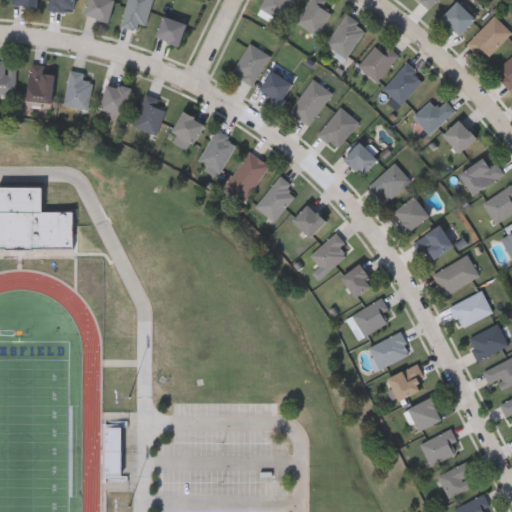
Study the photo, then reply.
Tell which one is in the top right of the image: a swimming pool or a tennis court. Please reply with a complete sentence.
You can see a swimming pool in the top right of the image.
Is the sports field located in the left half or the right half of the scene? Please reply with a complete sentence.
You can find the sports field on the left side of the picture.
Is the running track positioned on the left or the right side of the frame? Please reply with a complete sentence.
It is on the left.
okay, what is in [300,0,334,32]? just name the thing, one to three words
house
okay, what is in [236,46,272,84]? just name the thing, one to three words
house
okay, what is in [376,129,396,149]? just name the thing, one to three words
swimming pool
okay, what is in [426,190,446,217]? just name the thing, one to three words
swimming pool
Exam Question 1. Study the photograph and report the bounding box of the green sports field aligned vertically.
[0,290,82,512]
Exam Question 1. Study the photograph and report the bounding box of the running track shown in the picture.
[0,270,102,512]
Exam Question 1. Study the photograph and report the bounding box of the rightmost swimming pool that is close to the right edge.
[490,240,510,268]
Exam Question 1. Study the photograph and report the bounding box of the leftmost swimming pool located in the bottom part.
[358,350,374,375]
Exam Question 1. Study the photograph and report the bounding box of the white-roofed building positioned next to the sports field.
[0,187,75,250]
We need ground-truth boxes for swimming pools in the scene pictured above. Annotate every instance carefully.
[378,93,388,103]
[448,176,459,186]
[376,129,396,149]
[426,190,446,217]
[358,350,374,375]
[490,240,510,268]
